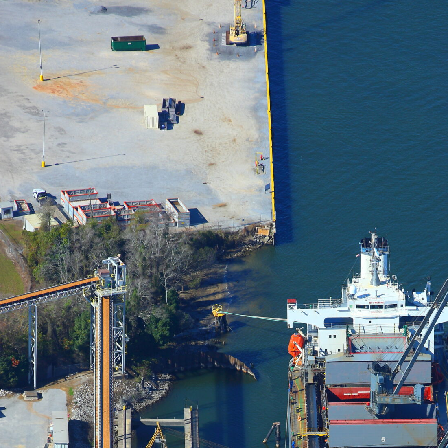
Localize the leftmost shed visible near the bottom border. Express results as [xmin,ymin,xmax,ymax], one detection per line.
[50,409,69,448]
